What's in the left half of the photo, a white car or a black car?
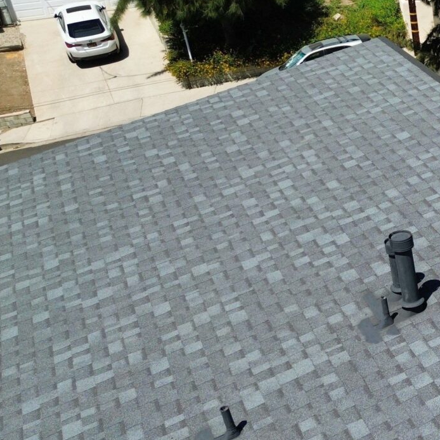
white car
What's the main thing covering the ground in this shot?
buildings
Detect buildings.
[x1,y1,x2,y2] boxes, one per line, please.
[0,36,440,440]
[0,0,146,25]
